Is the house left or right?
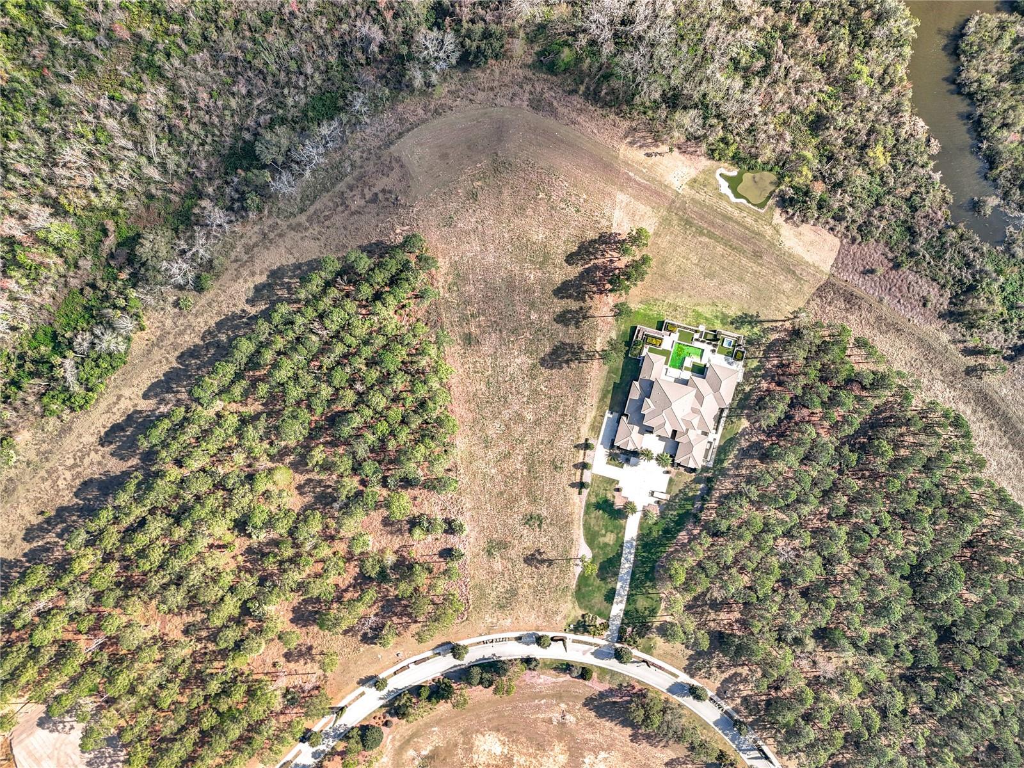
right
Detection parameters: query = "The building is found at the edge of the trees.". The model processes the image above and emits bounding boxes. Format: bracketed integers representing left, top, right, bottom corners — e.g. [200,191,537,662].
[614,353,738,468]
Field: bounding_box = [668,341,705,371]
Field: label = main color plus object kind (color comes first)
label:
green swimming pool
